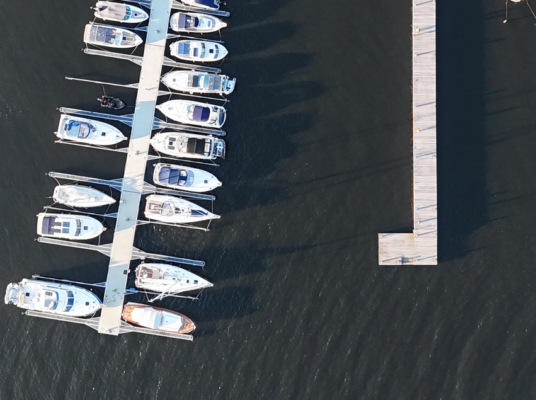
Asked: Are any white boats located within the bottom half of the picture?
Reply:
Yes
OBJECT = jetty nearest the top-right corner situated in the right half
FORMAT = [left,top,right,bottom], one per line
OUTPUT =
[378,0,438,265]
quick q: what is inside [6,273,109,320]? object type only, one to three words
boat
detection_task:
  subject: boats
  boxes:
[144,127,230,163]
[158,67,238,98]
[168,39,228,63]
[54,116,130,150]
[185,0,230,12]
[84,25,145,52]
[135,262,214,302]
[120,297,197,336]
[47,181,117,214]
[151,97,231,130]
[169,12,231,35]
[151,163,225,194]
[39,211,109,241]
[93,94,132,111]
[90,1,149,25]
[144,191,223,231]
[6,273,109,320]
